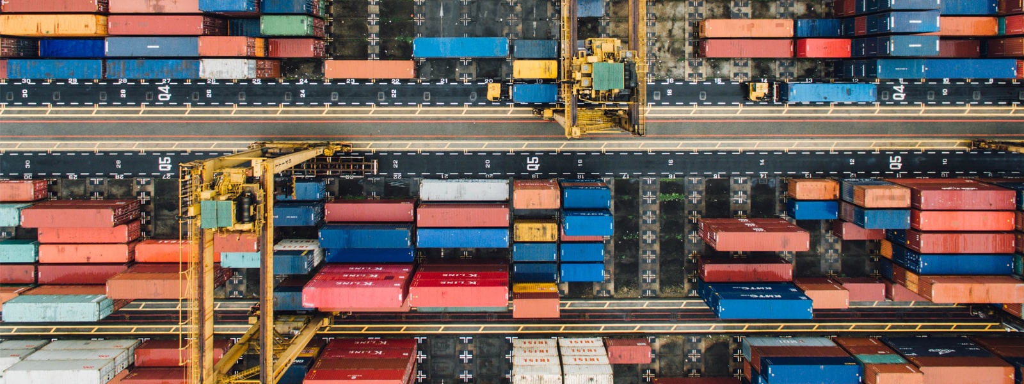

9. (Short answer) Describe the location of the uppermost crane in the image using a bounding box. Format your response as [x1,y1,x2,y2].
[530,0,649,139]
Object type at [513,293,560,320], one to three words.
shipping container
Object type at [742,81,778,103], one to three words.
truck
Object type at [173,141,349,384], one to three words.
container crane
